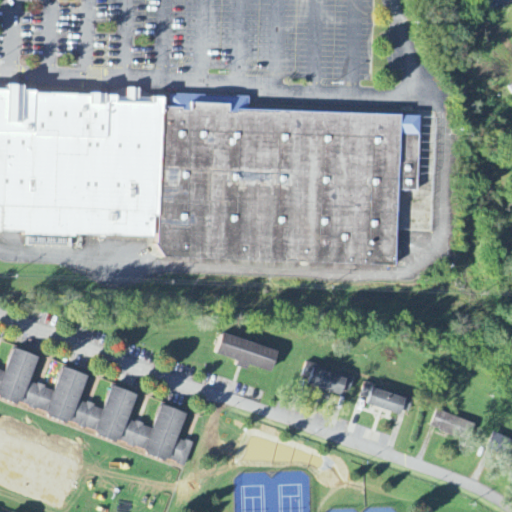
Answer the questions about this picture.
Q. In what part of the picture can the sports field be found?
bottom left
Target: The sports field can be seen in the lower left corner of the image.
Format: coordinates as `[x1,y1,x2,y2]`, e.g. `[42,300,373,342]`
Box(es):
[0,426,86,510]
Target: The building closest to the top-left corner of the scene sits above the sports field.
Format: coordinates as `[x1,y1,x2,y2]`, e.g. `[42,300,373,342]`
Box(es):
[0,82,166,248]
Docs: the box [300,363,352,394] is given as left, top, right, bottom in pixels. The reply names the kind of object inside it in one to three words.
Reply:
house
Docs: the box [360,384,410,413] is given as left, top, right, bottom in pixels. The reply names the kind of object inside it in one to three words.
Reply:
house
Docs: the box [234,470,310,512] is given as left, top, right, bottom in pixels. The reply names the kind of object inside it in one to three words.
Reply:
tennis court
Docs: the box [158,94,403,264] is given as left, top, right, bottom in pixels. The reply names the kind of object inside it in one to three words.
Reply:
building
